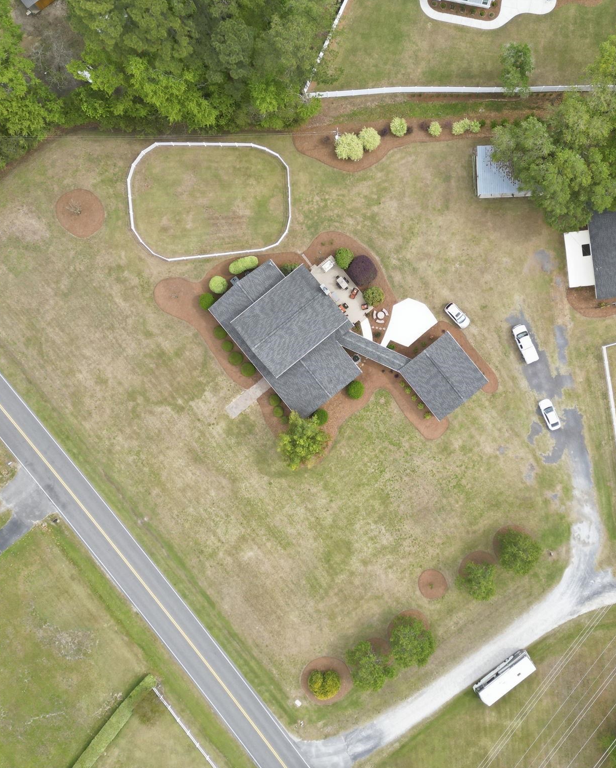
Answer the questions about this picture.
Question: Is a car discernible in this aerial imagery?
Yes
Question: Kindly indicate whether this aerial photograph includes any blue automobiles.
No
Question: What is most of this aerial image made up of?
grass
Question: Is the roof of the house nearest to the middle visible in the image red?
No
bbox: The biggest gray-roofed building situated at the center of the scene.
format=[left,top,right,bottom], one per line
[209,260,362,418]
